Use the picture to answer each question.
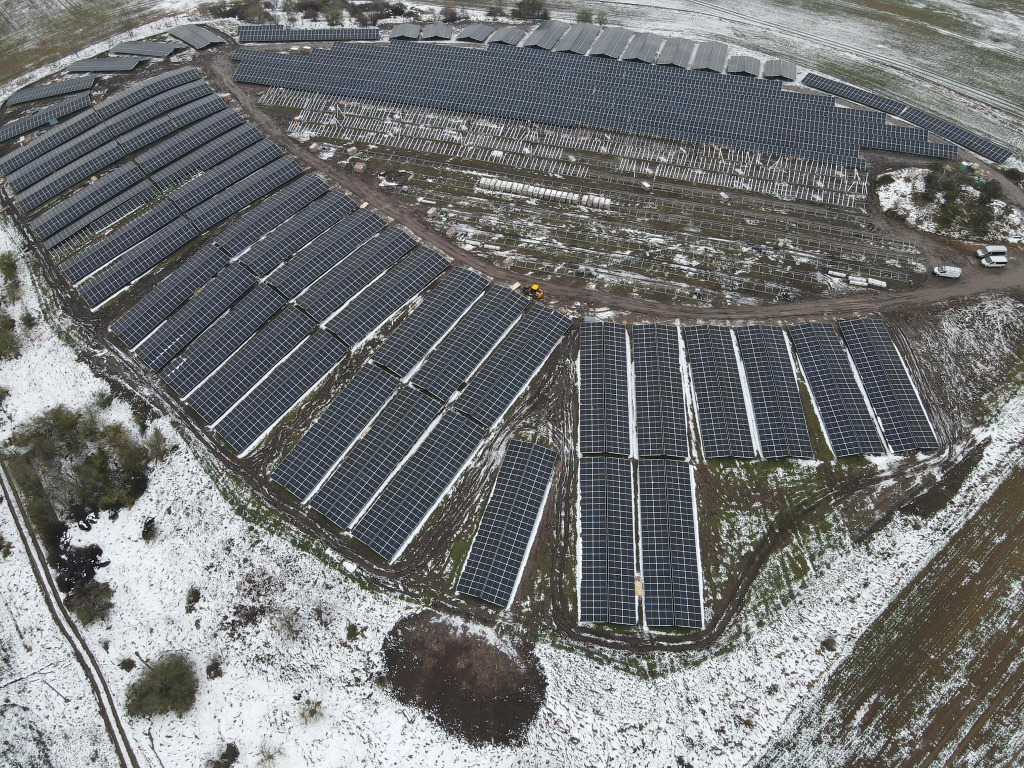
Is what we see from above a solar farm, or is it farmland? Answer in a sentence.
The picture captures a solar farm.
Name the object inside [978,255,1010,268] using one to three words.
vehicle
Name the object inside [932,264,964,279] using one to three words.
vehicle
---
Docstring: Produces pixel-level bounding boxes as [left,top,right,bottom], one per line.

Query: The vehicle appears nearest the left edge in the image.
[522,283,545,300]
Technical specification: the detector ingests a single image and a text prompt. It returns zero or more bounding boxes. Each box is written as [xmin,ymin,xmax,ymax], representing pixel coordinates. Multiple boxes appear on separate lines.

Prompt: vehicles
[975,244,1011,258]
[932,264,964,279]
[978,255,1010,268]
[522,283,545,300]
